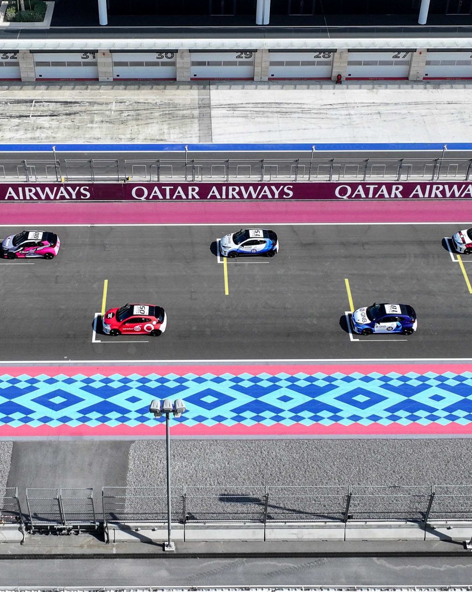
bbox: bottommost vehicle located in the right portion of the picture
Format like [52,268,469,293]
[351,302,419,336]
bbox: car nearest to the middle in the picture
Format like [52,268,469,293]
[221,229,279,258]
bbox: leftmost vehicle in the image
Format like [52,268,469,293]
[0,230,59,260]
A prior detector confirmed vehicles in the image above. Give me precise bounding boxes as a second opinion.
[453,229,472,255]
[0,230,59,260]
[101,303,166,337]
[221,229,279,258]
[351,302,419,336]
